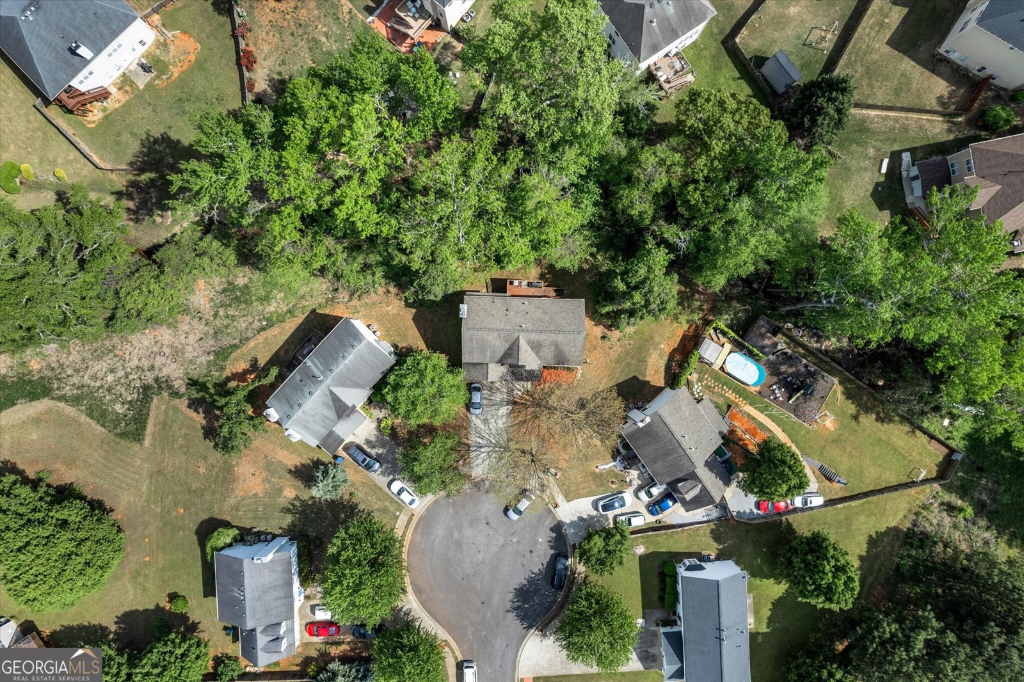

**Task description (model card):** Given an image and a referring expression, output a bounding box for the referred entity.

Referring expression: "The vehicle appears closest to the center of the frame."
[468,383,483,414]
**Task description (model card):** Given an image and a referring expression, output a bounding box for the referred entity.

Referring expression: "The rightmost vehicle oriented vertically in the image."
[552,554,567,588]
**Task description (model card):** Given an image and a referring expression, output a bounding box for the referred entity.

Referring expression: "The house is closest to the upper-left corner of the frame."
[0,0,156,101]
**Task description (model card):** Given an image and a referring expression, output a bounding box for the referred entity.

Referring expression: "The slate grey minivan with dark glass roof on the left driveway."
[349,443,379,473]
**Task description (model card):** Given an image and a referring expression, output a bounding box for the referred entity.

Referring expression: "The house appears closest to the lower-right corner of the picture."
[657,558,751,682]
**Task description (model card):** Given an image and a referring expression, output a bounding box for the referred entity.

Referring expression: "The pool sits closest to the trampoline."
[725,351,769,388]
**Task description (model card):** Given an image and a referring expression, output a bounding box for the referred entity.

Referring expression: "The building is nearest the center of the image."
[459,293,585,382]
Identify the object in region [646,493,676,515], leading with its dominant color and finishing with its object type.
blue car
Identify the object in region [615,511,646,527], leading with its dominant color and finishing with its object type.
white car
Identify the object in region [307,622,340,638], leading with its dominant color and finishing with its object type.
red car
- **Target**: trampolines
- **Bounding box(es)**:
[794,400,822,425]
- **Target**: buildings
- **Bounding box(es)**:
[758,50,802,97]
[0,0,156,101]
[944,0,1024,90]
[742,316,781,358]
[0,614,21,672]
[596,0,717,73]
[695,339,722,362]
[216,539,304,667]
[619,387,730,513]
[406,0,475,31]
[657,558,751,682]
[459,293,585,382]
[262,316,398,456]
